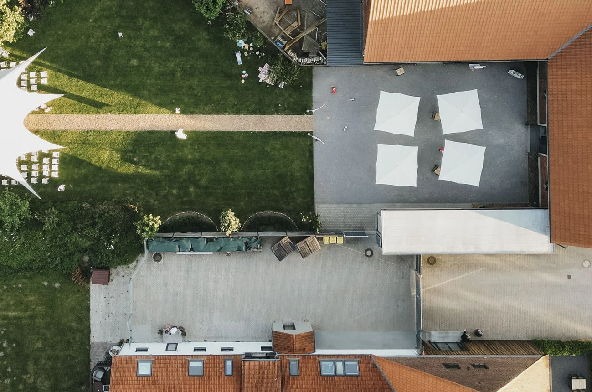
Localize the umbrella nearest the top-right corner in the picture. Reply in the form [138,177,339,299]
[436,89,483,135]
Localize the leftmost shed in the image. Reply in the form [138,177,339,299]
[91,266,111,284]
